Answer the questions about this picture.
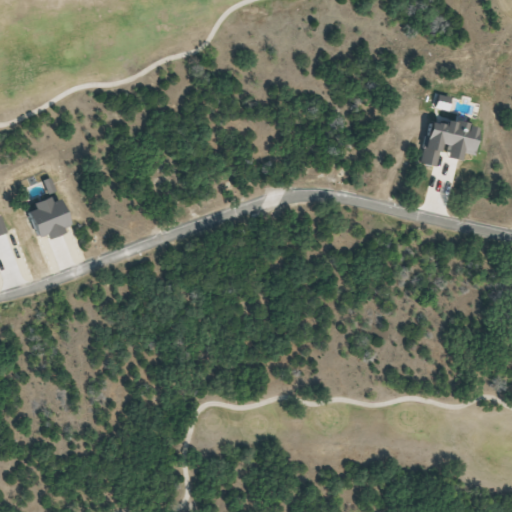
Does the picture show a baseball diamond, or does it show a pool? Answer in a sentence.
It is a pool that can be seen here.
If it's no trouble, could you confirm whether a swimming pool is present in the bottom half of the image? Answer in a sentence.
No, I can find no swimming pool in the bottom half of the image.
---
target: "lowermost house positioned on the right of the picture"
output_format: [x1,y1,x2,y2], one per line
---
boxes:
[420,120,480,168]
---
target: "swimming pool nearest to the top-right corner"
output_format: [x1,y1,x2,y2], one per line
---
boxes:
[450,96,480,118]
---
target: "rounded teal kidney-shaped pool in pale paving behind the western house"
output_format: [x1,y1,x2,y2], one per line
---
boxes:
[27,182,48,203]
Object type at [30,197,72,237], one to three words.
house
